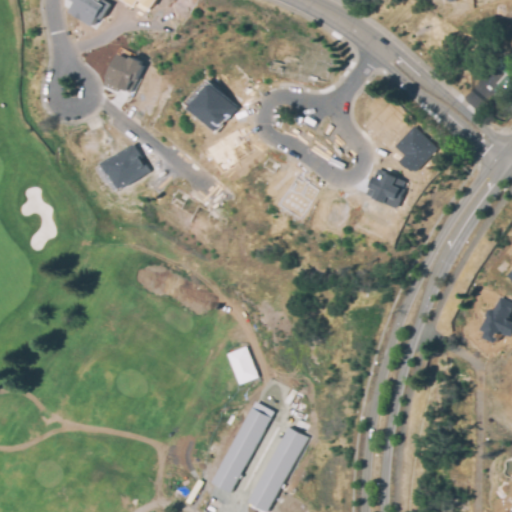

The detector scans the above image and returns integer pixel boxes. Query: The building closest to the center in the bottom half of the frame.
[228,346,260,386]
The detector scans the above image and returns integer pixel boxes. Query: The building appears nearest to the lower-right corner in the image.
[481,296,512,342]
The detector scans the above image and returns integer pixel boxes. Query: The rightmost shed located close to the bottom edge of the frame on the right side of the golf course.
[249,428,311,512]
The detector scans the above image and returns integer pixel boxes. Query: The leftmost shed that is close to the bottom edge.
[214,400,276,492]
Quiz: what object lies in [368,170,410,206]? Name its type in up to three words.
house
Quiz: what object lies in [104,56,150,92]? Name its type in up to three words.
house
